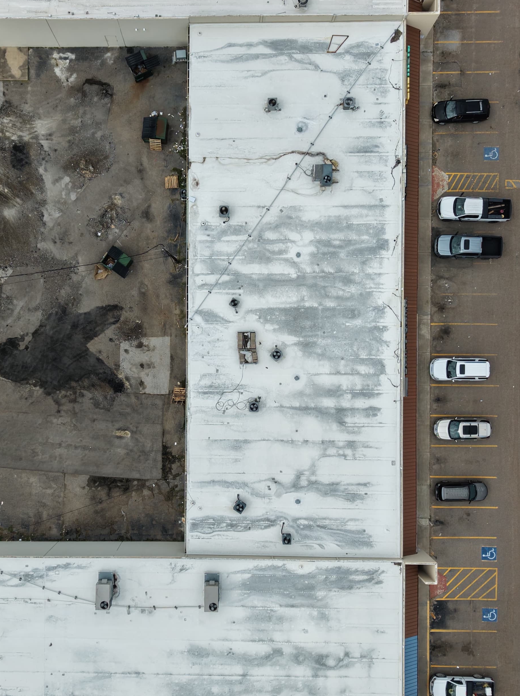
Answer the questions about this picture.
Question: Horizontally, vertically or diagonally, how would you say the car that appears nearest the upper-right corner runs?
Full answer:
The car that appears nearest the upper-right corner is laid out horizontally.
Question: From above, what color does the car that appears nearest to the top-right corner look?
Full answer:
From above, the car that appears nearest to the top-right corner appears black.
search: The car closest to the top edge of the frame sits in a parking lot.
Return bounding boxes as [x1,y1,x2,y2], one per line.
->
[432,98,491,128]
